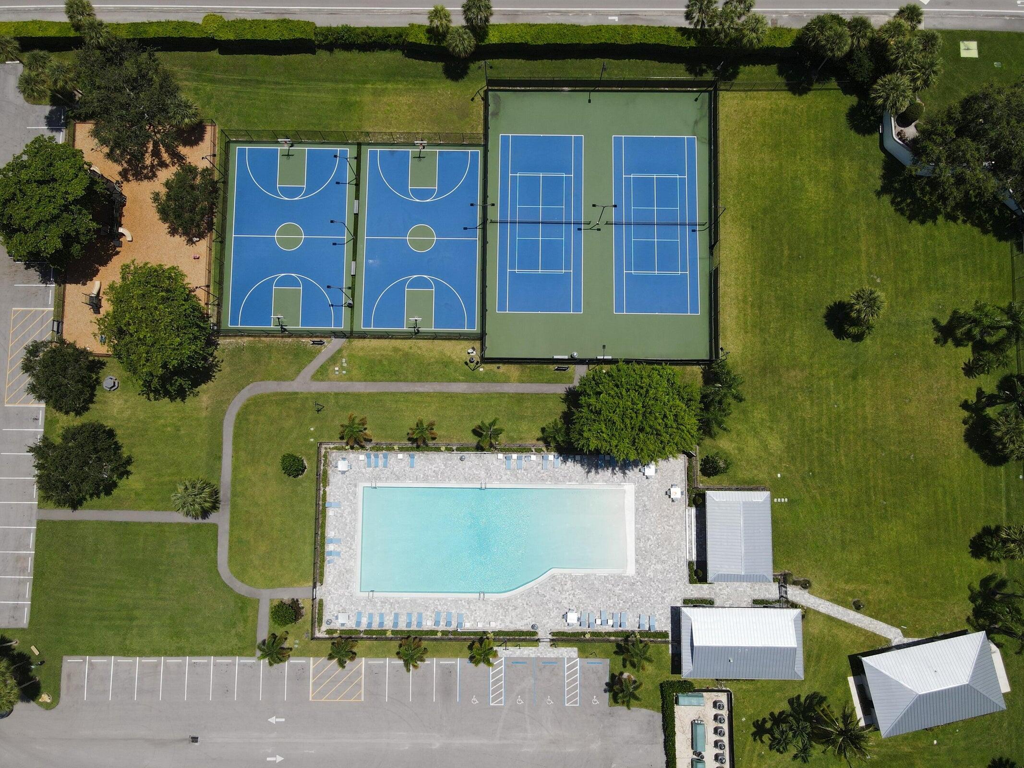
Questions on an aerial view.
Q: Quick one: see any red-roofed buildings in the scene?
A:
No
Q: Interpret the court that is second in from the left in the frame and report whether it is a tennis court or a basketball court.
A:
basketball court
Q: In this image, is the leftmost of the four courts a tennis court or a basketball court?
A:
basketball court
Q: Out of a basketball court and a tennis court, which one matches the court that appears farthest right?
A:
tennis court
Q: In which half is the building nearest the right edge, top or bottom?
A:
bottom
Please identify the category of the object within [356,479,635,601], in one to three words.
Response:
swimming pool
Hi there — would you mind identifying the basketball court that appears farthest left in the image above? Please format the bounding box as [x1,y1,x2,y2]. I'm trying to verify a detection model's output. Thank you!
[220,141,357,336]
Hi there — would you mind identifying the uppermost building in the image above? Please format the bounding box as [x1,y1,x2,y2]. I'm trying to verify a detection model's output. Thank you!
[703,491,774,583]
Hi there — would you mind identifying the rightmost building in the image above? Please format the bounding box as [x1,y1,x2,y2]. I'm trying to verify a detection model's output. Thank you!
[853,627,1007,738]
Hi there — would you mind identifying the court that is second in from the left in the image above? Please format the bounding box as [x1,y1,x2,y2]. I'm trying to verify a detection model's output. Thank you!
[353,143,484,338]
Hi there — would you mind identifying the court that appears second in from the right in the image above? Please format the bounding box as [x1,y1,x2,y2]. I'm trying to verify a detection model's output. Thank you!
[486,90,599,361]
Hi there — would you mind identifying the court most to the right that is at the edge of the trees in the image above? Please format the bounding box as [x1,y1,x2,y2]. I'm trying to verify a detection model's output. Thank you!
[598,90,713,361]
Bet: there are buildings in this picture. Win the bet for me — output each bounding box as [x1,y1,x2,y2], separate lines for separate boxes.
[677,605,804,680]
[703,491,774,583]
[853,627,1007,738]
